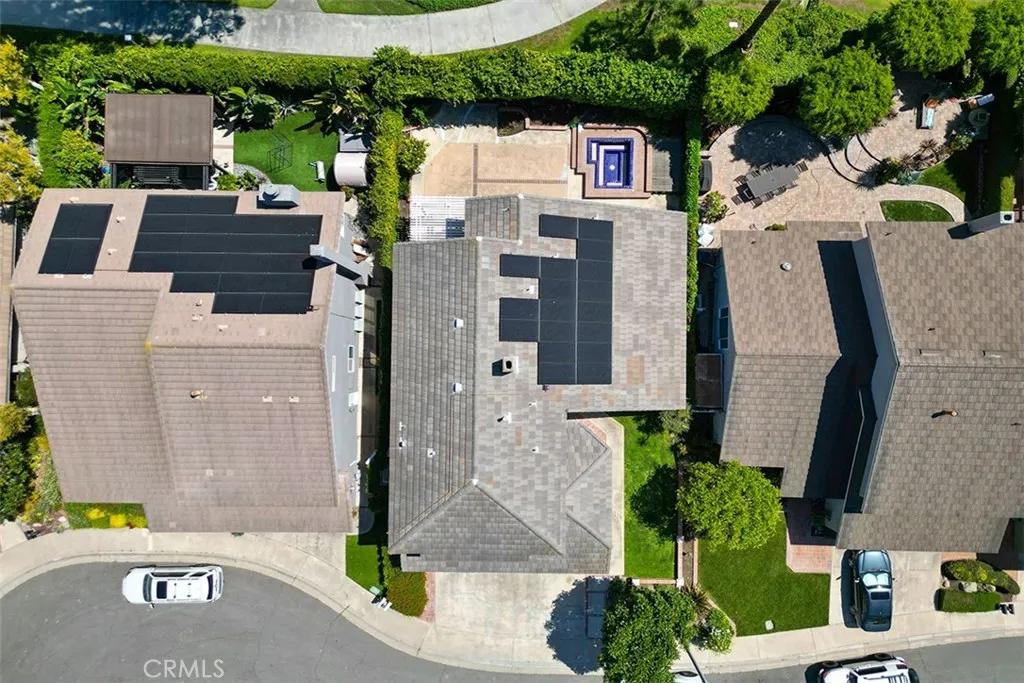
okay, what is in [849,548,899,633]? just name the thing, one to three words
car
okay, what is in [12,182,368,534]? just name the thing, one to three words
house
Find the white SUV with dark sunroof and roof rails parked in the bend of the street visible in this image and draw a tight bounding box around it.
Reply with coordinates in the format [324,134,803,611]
[121,559,225,611]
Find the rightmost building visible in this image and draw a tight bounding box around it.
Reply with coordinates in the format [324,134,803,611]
[712,209,1024,550]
